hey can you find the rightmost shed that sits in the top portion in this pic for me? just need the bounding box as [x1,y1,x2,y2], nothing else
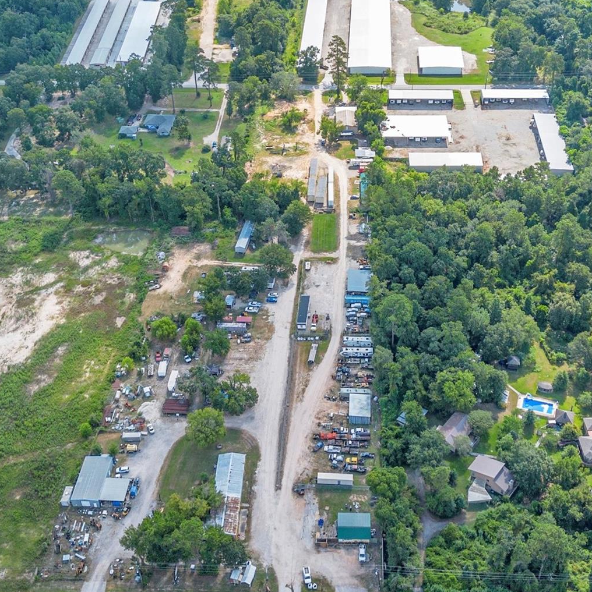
[533,113,572,177]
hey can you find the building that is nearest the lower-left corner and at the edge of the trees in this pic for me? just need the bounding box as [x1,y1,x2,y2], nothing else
[70,453,132,507]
